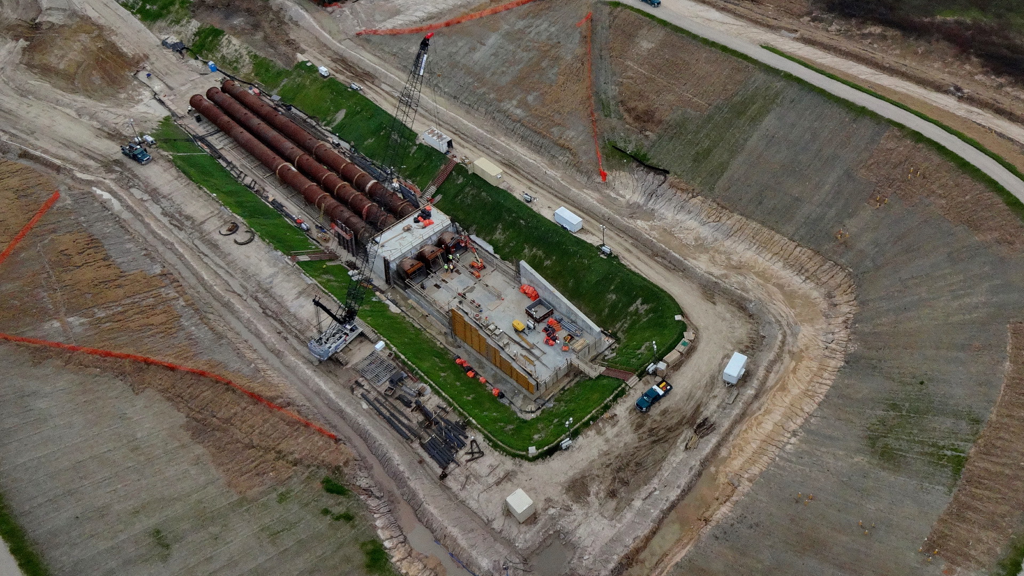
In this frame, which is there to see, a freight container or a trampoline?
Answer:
freight container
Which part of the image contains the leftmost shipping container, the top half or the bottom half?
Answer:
top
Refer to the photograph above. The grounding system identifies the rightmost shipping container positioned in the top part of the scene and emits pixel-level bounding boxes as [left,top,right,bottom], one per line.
[472,157,504,187]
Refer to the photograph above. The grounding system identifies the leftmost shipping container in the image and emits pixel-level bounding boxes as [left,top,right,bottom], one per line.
[423,128,457,156]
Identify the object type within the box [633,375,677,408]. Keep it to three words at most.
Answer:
truck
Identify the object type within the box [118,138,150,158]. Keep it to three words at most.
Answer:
vehicle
